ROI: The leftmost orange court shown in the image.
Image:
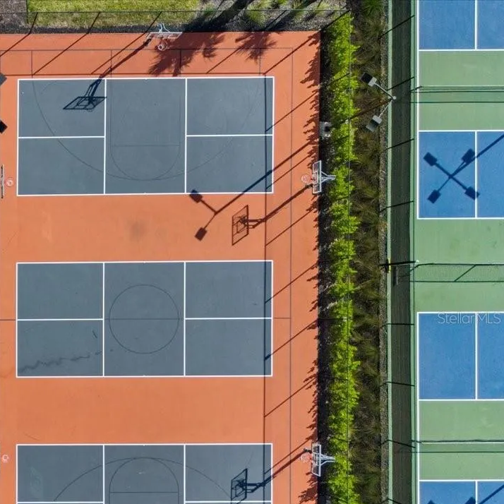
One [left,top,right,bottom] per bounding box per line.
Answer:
[0,31,320,504]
